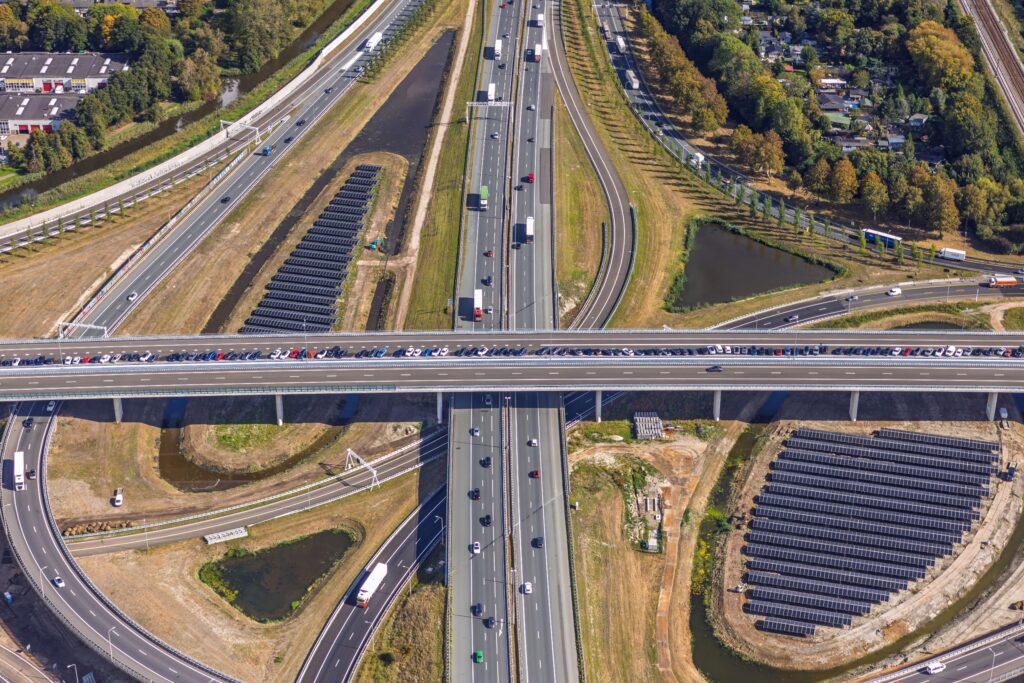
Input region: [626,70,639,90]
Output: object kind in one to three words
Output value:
vehicle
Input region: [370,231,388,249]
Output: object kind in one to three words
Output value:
work vehicle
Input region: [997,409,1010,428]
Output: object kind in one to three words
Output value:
vehicle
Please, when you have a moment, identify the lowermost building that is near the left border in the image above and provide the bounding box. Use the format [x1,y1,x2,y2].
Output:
[0,93,85,135]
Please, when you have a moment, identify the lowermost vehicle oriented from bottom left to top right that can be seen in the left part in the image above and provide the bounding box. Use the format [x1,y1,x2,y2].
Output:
[355,563,388,608]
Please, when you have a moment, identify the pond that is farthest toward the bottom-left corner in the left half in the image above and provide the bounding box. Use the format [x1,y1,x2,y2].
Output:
[211,532,352,621]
